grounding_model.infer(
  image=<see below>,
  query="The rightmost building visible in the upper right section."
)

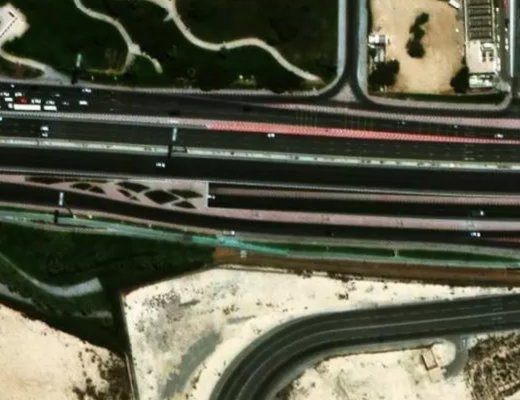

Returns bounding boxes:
[464,0,498,91]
